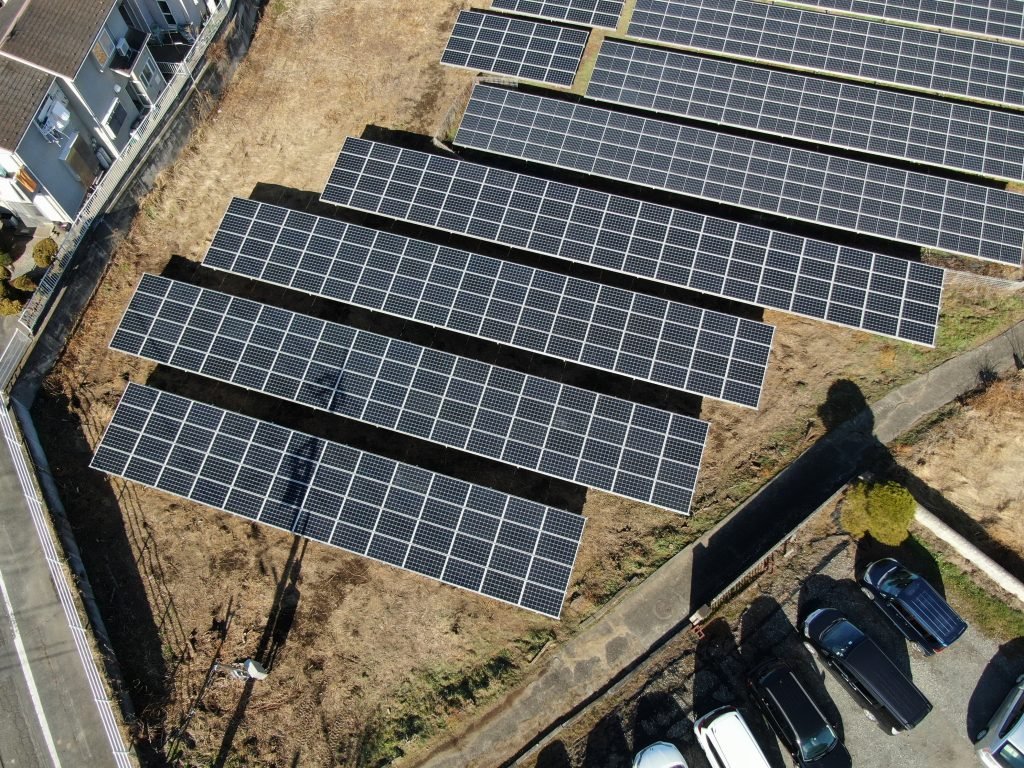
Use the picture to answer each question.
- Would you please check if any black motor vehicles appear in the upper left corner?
No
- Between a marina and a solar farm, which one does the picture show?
solar farm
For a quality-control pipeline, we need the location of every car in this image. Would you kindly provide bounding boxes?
[747,654,871,768]
[800,603,932,742]
[694,706,773,768]
[864,555,973,657]
[635,740,691,768]
[974,666,1024,768]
